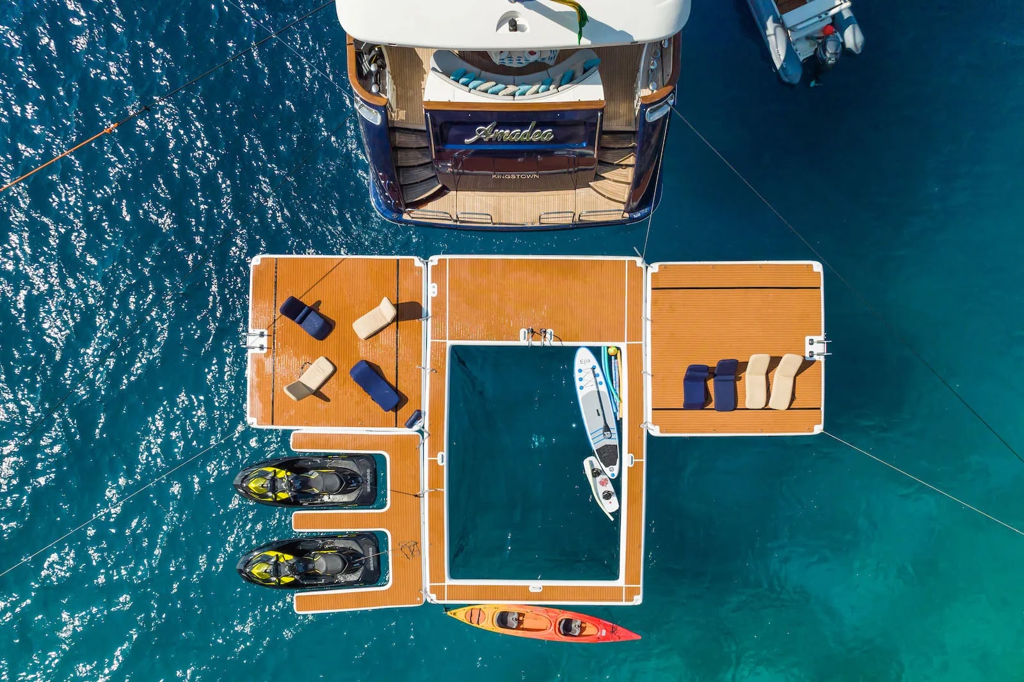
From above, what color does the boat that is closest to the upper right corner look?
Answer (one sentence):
The boat that is closest to the upper right corner is blue.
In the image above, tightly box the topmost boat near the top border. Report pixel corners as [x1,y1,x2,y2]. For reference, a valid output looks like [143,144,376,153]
[749,0,868,88]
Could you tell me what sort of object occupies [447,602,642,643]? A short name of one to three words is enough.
boat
